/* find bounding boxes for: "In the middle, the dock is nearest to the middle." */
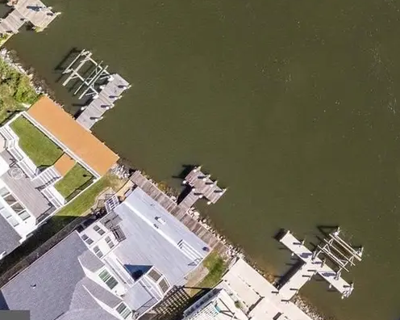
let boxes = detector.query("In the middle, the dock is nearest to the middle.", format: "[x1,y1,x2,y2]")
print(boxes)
[178,165,230,212]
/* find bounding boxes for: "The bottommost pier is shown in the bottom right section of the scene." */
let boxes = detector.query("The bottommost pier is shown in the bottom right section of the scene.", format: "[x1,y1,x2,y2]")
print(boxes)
[277,231,355,307]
